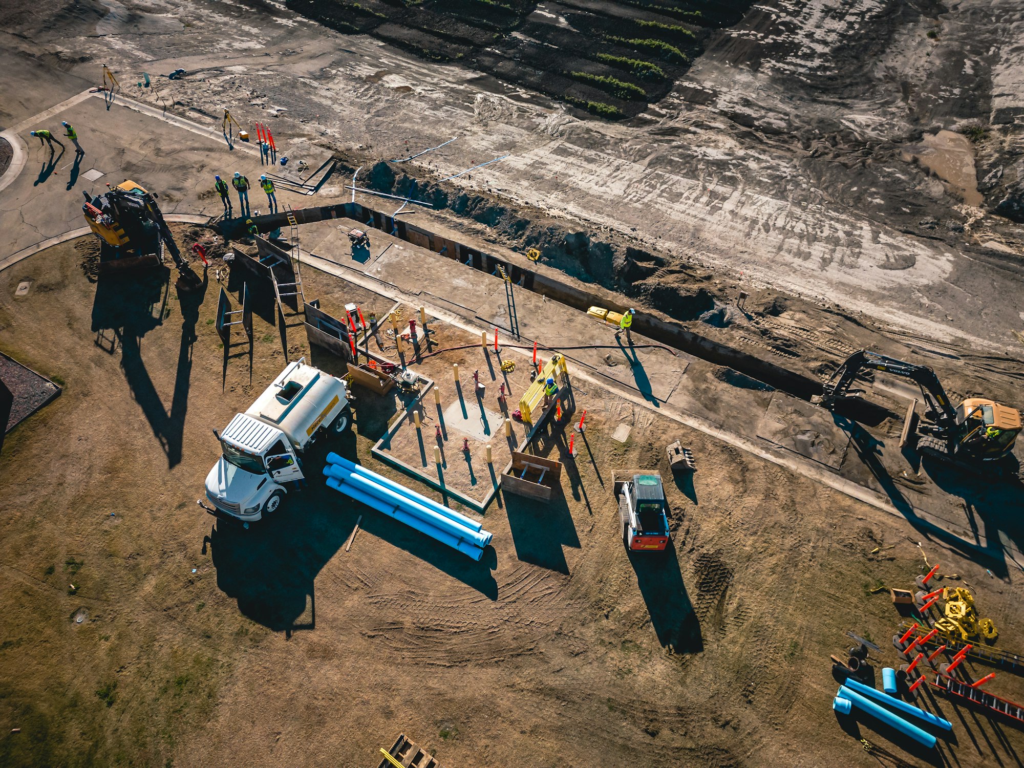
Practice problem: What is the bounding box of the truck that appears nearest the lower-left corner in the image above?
[180,347,358,531]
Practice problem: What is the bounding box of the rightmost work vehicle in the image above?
[804,339,1024,489]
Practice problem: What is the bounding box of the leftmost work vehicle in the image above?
[90,163,200,294]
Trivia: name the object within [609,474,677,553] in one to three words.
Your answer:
work vehicle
